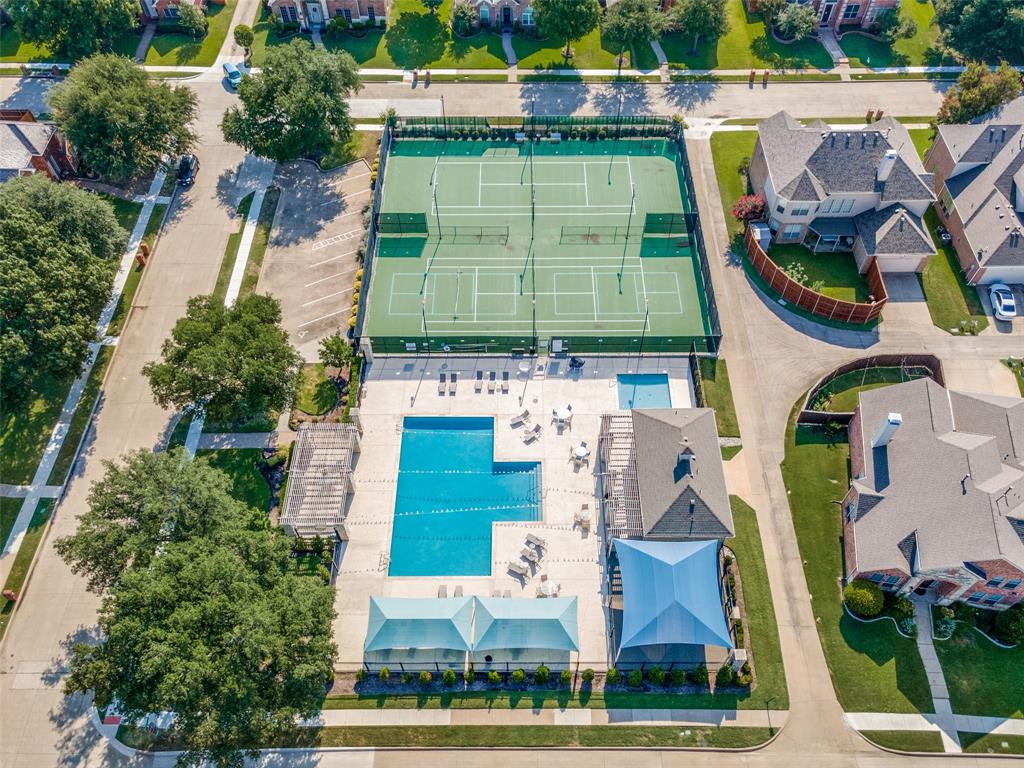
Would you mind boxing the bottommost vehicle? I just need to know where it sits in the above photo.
[986,285,1020,319]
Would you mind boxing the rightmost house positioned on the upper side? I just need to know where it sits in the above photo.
[924,95,1024,290]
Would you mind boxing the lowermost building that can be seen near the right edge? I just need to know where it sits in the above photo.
[842,377,1024,616]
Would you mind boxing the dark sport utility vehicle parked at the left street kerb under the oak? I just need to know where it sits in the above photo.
[175,153,200,185]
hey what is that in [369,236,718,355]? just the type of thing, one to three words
tennis court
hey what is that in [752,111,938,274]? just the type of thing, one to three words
house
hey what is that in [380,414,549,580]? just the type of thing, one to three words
swimming pool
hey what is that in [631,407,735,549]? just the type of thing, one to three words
building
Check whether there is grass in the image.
Yes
